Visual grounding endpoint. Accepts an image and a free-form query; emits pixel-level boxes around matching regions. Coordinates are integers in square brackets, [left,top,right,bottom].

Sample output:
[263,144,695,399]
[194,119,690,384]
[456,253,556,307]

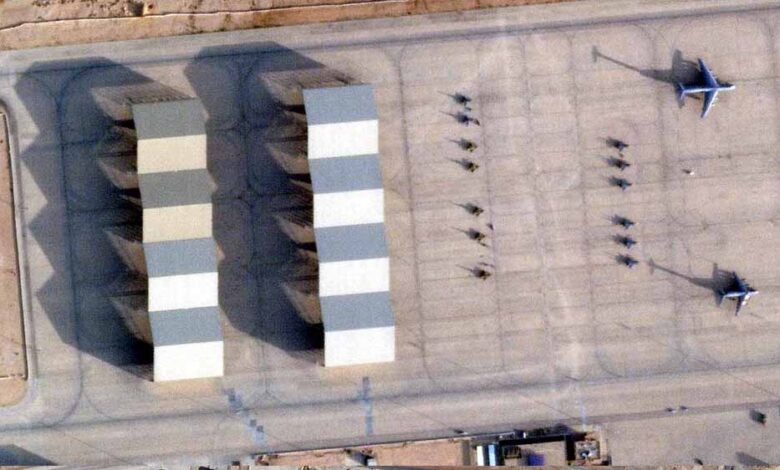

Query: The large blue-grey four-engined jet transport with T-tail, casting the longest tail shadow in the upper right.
[679,61,735,120]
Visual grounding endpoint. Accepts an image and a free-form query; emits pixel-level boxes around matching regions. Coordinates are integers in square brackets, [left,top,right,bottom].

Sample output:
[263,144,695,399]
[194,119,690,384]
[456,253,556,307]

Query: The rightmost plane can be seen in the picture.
[719,273,758,316]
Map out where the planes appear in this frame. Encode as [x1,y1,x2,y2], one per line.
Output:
[458,95,473,106]
[469,207,485,218]
[617,161,633,171]
[471,232,486,243]
[619,179,634,190]
[719,273,758,316]
[679,61,735,120]
[625,257,641,268]
[615,142,631,152]
[459,115,475,126]
[622,219,637,230]
[463,142,479,153]
[465,163,481,174]
[623,238,639,249]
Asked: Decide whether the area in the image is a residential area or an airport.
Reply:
airport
